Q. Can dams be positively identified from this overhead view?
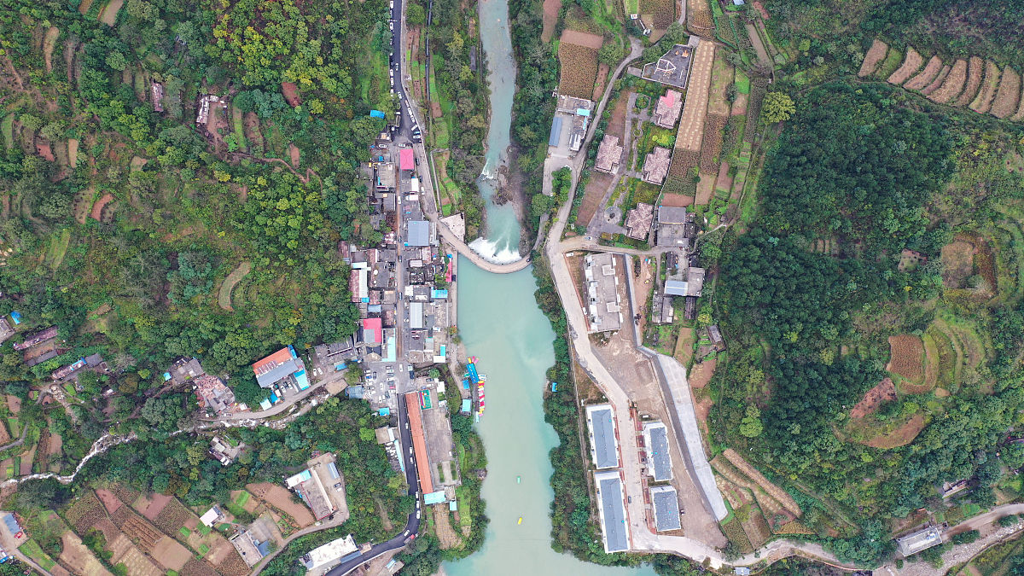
Yes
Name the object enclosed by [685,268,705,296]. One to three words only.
house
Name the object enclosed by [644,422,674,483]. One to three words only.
building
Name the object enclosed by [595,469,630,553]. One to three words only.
building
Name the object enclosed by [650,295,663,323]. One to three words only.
house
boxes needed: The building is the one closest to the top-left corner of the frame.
[151,83,169,115]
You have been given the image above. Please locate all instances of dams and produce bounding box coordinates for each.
[438,220,533,274]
